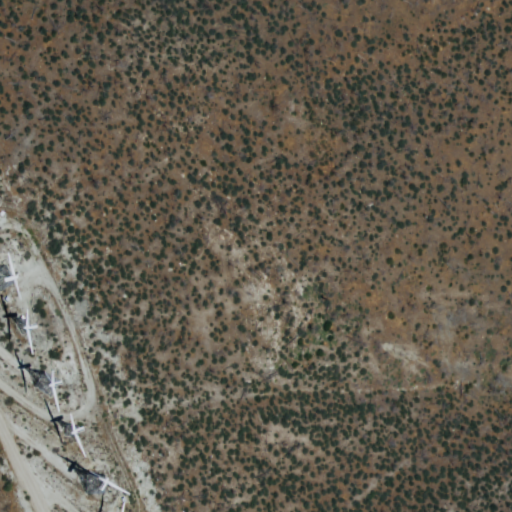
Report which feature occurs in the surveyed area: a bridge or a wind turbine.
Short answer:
wind turbine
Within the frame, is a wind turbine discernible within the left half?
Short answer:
Yes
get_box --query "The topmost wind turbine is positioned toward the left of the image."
[0,254,22,298]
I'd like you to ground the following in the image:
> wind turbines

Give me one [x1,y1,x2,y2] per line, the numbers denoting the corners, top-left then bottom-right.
[0,254,22,298]
[64,414,86,456]
[88,474,130,495]
[38,371,65,410]
[18,310,40,352]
